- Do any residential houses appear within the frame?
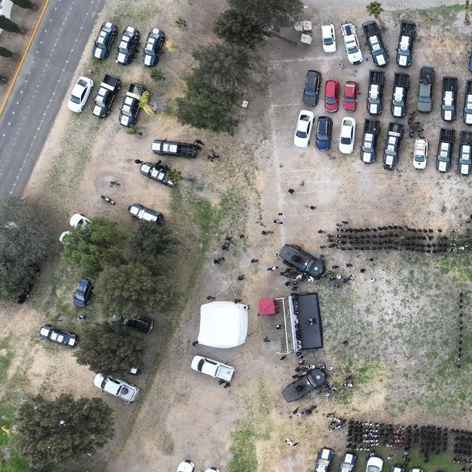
No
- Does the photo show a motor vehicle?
Yes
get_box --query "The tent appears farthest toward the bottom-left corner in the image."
[198,283,257,368]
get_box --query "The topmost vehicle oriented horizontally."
[151,139,200,159]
